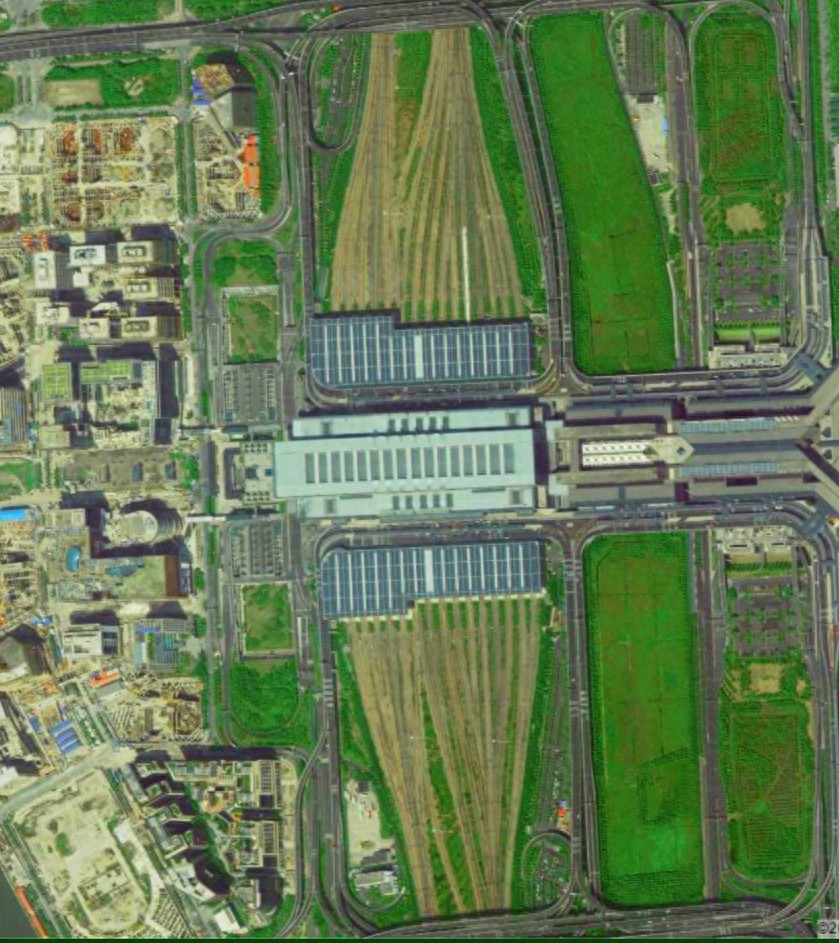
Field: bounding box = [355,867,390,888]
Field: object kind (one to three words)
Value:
building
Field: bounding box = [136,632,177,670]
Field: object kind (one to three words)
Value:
building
